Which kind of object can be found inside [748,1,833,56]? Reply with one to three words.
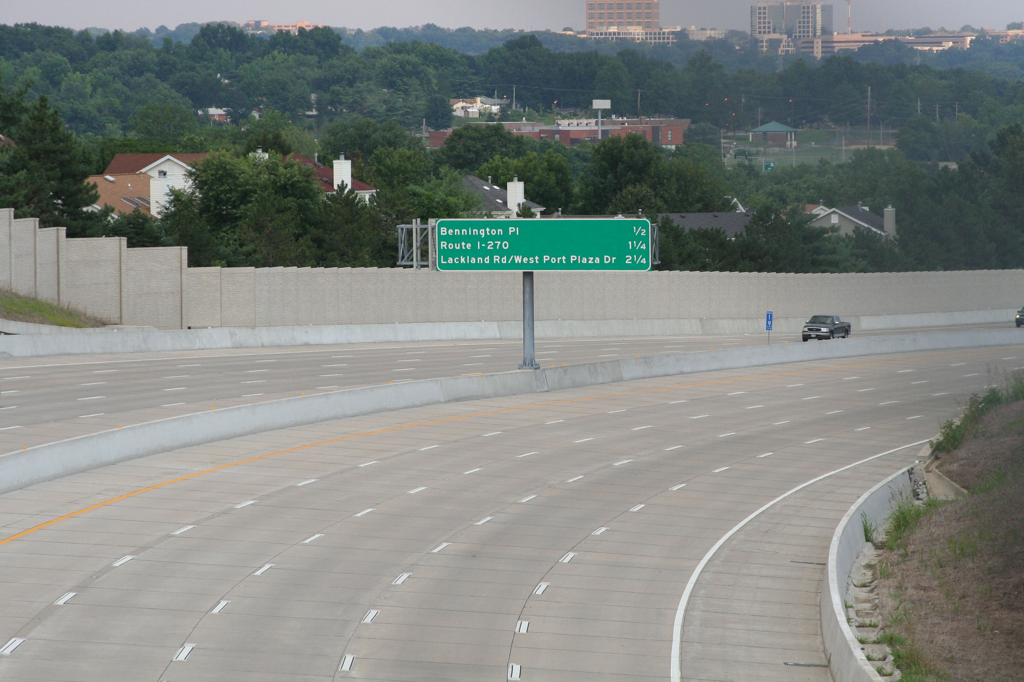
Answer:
building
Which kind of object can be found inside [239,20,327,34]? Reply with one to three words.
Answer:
building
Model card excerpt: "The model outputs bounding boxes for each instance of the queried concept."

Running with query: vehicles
[797,313,851,342]
[1016,311,1024,327]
